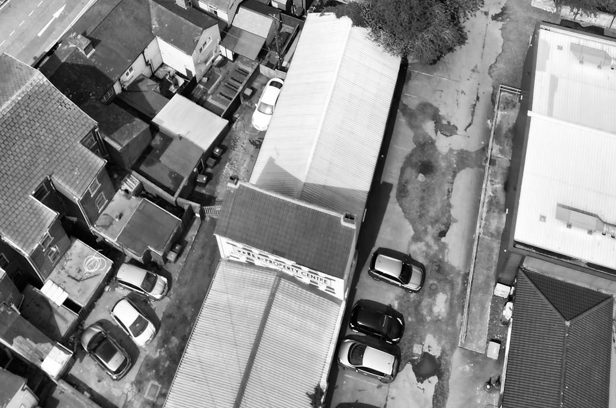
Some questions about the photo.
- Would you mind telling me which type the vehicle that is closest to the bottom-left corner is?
automobile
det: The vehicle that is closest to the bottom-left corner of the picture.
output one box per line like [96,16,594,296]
[76,324,137,386]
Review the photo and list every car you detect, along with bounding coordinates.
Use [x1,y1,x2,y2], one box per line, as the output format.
[249,78,284,132]
[348,304,405,342]
[76,324,137,386]
[113,261,172,303]
[370,258,424,292]
[107,294,159,349]
[336,341,399,382]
